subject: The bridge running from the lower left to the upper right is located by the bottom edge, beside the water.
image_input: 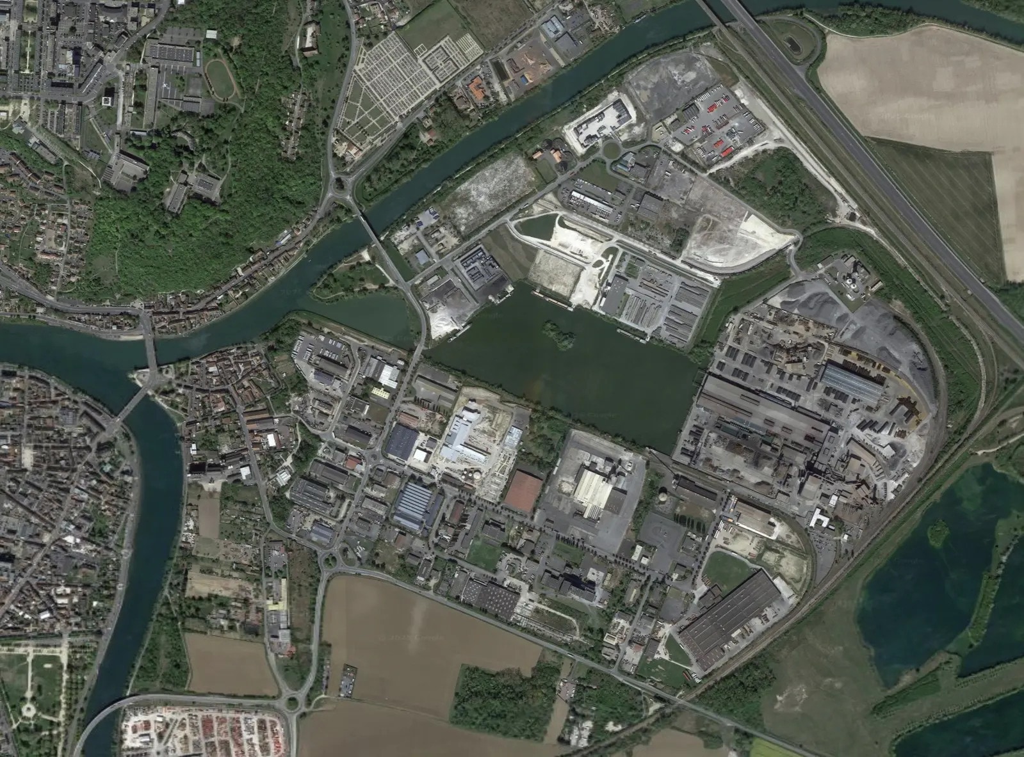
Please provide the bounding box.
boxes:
[72,693,173,757]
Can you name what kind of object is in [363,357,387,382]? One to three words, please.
building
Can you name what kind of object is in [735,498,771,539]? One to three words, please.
shed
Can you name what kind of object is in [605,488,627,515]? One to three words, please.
building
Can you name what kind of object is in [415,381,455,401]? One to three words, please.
shed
